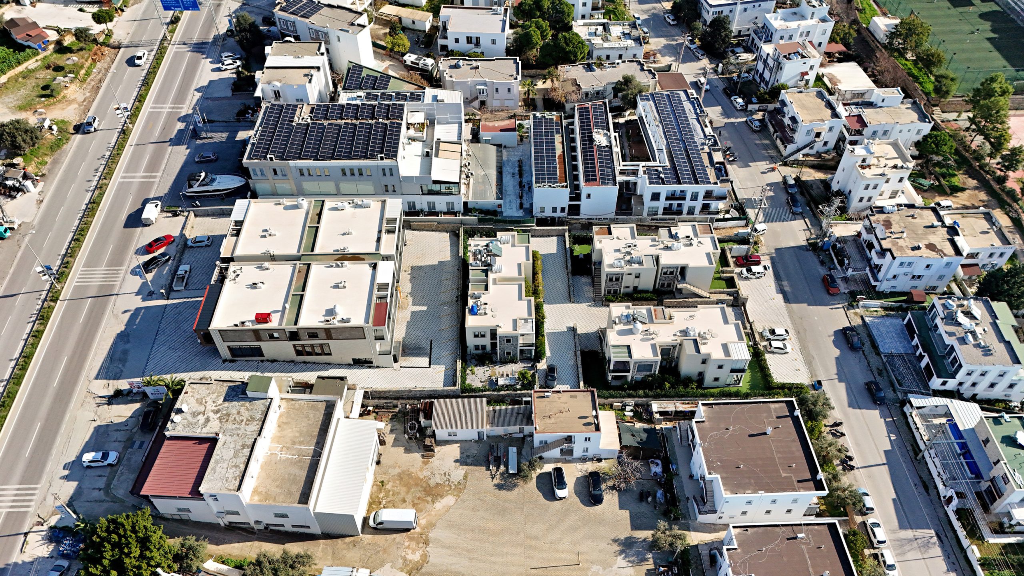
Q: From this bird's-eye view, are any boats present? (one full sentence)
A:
Yes, a boat appears in the view.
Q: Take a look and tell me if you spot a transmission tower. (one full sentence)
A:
Yes, there's a transmission tower here.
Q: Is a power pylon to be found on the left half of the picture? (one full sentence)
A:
No, on the left half of the picture there is no power pylon.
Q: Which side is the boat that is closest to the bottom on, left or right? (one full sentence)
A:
It is on the left.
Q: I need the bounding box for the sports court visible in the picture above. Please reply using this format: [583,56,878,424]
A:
[989,110,1024,199]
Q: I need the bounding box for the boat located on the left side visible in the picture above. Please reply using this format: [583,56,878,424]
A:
[172,164,246,191]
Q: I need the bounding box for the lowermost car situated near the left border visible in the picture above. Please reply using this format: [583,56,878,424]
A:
[45,551,80,576]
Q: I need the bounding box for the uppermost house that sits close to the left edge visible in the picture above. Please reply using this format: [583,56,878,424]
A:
[4,16,51,56]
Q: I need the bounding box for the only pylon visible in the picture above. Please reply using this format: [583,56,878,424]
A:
[812,191,845,245]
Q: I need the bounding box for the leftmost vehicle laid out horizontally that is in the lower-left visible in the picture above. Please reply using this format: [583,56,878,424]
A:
[79,449,121,470]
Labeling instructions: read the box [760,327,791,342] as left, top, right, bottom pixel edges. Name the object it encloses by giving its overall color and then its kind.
white car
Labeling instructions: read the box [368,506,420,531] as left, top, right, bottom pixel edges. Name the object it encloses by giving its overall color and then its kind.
white vehicle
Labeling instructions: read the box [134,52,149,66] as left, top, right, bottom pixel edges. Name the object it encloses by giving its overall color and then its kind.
white car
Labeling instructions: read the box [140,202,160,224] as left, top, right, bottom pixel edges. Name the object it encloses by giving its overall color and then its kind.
white vehicle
